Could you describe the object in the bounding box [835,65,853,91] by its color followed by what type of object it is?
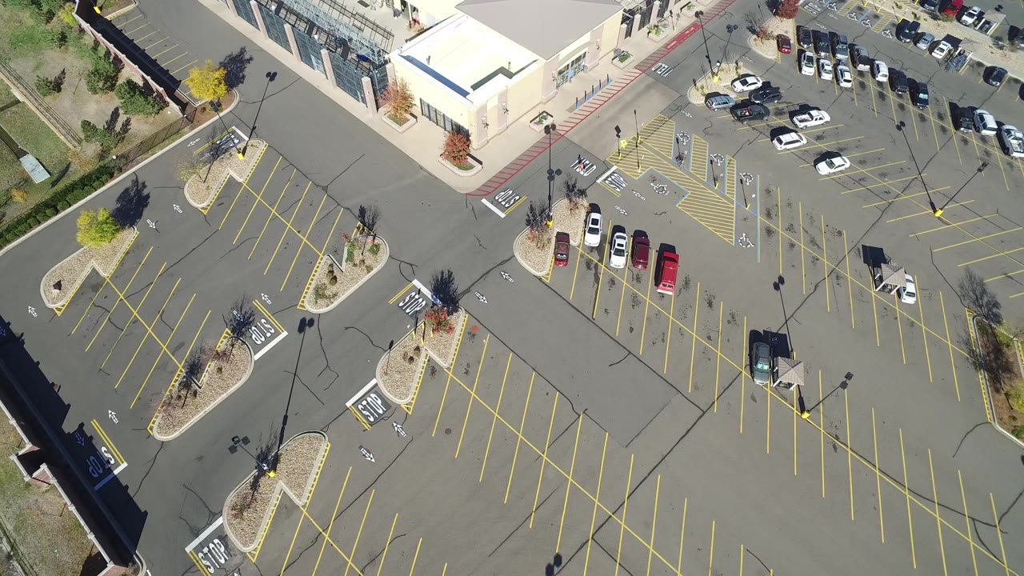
white car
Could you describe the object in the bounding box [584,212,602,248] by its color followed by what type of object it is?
white car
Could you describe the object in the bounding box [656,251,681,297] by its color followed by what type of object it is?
red truck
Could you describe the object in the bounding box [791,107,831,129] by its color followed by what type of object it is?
white truck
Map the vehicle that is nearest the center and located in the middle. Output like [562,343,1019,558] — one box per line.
[552,232,571,268]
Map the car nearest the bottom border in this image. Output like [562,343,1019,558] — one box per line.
[750,340,774,387]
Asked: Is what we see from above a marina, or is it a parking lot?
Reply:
parking lot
